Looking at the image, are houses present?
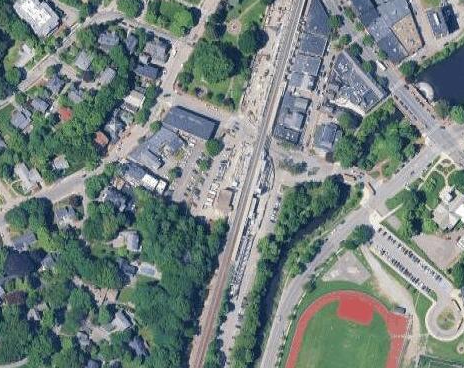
Yes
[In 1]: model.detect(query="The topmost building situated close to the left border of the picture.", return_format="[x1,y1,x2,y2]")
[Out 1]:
[14,0,61,37]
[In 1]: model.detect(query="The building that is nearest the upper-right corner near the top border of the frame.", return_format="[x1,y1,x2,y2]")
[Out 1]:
[428,5,451,37]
